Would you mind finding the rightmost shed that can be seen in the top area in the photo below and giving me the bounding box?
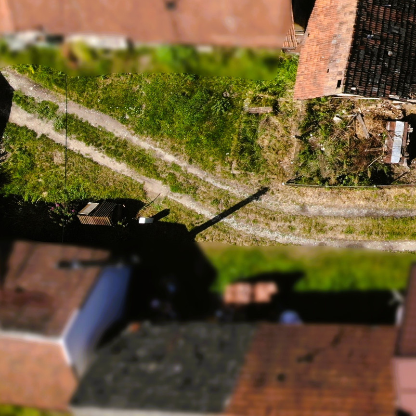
[380,119,416,169]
